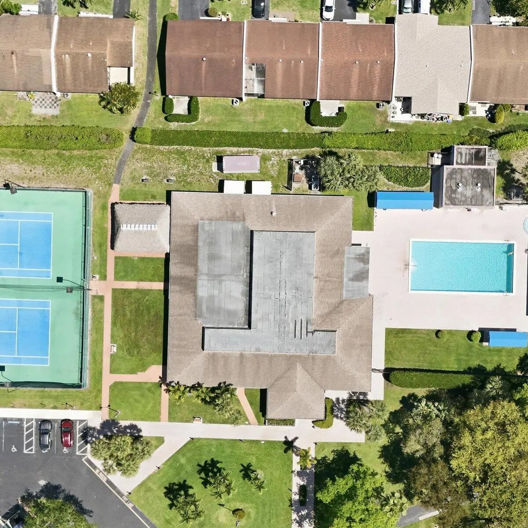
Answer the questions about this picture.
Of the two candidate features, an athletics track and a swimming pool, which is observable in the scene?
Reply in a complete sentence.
It is a swimming pool that can be seen here.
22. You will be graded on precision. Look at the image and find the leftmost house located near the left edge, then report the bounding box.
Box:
[0,14,62,98]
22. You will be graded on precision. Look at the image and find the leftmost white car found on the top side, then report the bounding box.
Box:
[322,0,337,22]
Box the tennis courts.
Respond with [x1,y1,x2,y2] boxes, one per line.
[0,190,90,289]
[0,287,90,385]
